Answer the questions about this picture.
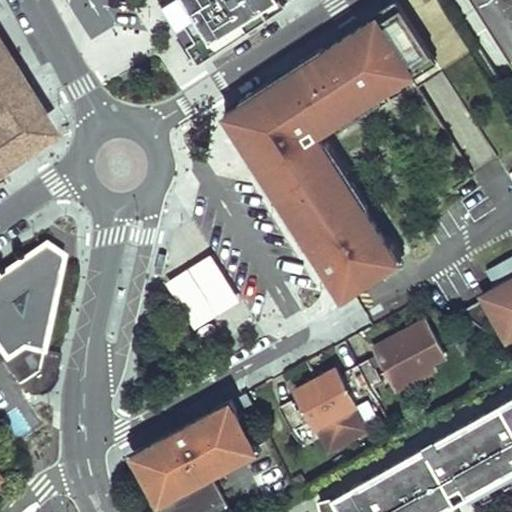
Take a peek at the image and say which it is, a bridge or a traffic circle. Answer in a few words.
traffic circle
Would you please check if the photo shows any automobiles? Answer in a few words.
Yes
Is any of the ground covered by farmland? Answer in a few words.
No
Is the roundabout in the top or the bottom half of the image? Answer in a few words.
top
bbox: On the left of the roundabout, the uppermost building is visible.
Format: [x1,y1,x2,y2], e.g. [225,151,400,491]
[0,40,60,179]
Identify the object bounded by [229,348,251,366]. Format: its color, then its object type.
white car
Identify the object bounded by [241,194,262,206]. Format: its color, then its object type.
white vehicle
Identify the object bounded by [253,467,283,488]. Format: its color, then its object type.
white truck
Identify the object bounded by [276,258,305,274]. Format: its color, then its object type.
white vehicle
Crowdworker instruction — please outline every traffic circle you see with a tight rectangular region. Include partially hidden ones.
[94,138,148,192]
